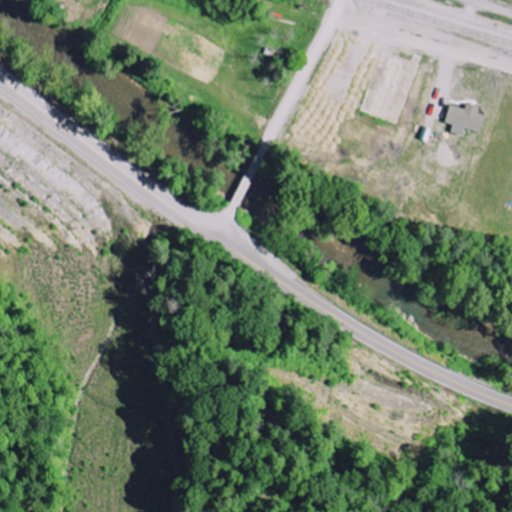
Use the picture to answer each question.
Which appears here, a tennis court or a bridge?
bridge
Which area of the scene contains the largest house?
top right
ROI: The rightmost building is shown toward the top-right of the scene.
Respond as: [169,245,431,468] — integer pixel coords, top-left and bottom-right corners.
[446,104,484,136]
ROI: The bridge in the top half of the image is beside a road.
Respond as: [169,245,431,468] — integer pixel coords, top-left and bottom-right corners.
[231,146,267,208]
